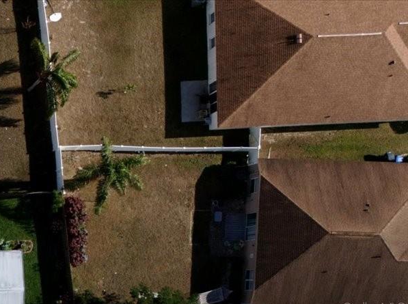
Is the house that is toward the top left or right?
right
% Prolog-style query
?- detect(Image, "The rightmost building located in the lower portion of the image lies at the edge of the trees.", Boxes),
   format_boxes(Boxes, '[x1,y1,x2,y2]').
[239,159,408,304]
